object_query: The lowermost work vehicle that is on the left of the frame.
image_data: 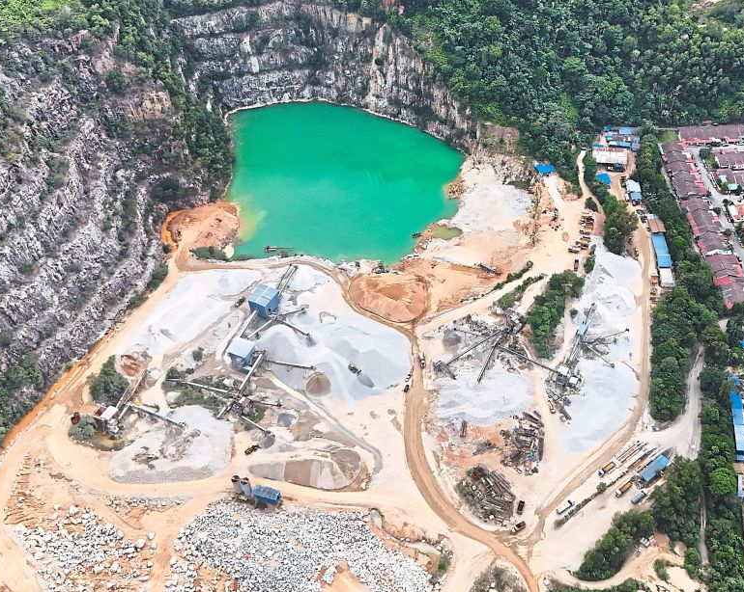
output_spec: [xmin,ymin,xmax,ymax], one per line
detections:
[246,441,266,454]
